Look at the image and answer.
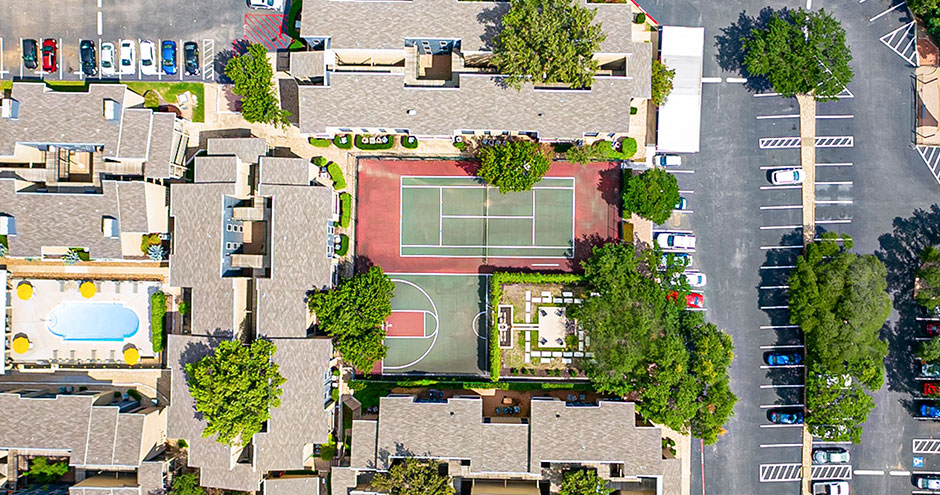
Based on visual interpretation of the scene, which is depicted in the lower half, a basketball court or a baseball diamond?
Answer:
basketball court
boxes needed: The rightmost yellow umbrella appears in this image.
[124,346,142,362]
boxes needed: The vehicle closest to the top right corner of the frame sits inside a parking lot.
[769,167,804,184]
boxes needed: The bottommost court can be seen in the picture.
[387,274,489,375]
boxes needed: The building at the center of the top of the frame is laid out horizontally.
[289,0,652,145]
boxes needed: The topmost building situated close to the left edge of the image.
[0,83,195,262]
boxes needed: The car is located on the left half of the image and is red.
[39,39,60,73]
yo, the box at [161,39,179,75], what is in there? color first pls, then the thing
blue car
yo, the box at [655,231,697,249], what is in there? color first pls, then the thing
white vehicle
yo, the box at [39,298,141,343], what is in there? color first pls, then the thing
white swimming pool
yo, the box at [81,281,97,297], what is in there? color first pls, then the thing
yellow umbrella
